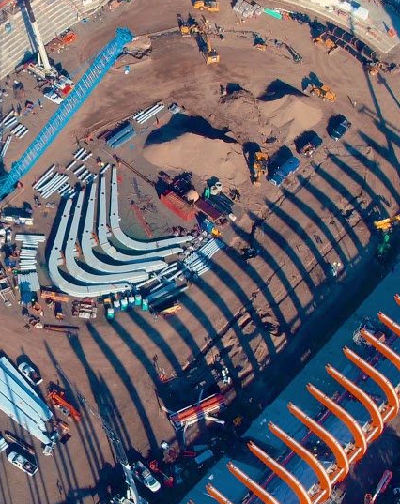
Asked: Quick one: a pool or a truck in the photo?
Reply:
truck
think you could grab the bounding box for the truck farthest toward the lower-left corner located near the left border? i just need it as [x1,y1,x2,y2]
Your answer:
[5,449,38,477]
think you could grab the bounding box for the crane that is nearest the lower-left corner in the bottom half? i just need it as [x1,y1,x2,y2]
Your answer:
[54,368,177,504]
